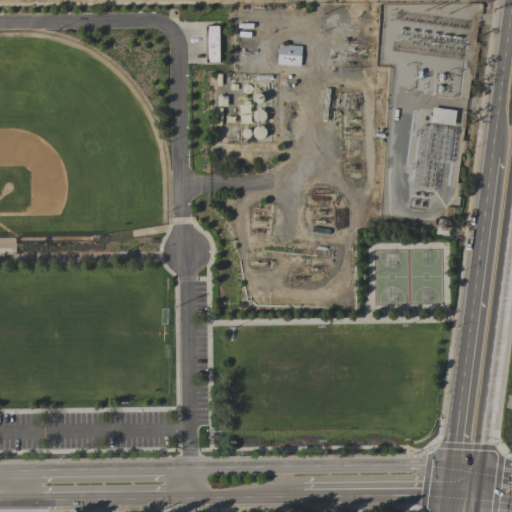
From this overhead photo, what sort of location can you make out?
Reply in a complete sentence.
The area seen from above is a sports ground.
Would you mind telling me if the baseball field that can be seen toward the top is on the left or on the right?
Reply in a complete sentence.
It is on the left.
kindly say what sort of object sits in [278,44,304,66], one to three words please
shed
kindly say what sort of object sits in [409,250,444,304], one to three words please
basketball court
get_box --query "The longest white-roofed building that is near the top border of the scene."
[206,25,220,62]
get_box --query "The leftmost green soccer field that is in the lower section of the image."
[0,258,176,408]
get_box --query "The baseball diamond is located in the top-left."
[0,30,170,236]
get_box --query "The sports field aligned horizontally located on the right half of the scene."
[212,324,452,434]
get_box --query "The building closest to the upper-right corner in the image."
[432,108,458,124]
